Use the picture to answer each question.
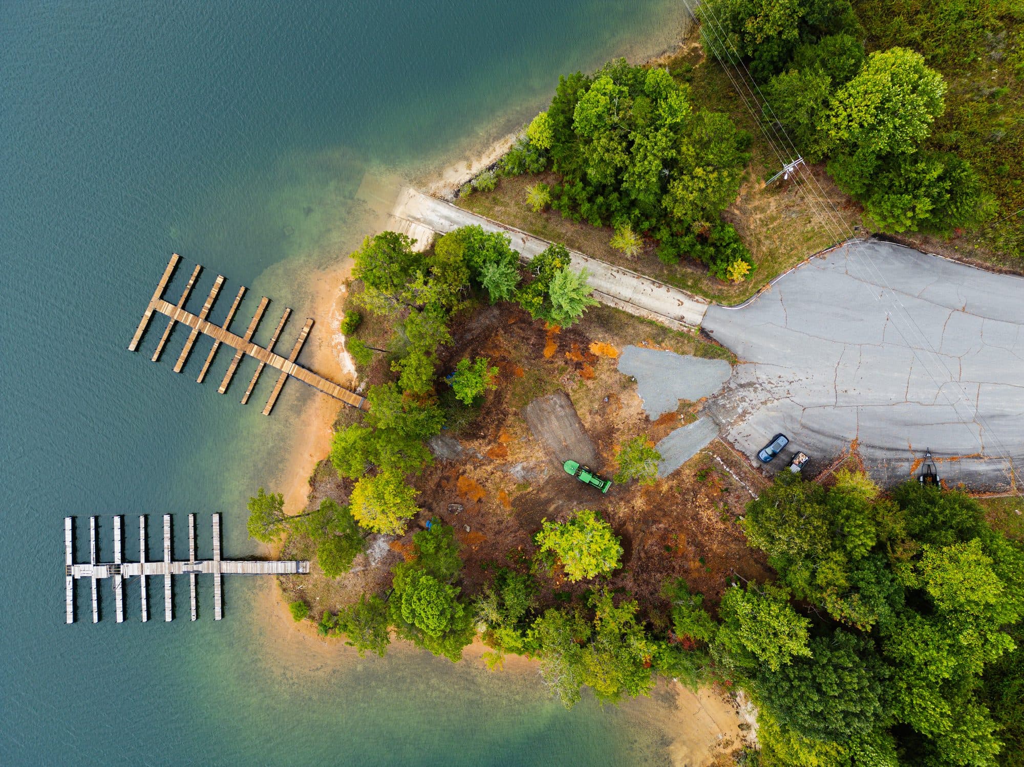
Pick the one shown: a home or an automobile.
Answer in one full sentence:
The image shows an automobile.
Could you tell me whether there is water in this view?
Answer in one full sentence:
Yes, water can be seen from above here.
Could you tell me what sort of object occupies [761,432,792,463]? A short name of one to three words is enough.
car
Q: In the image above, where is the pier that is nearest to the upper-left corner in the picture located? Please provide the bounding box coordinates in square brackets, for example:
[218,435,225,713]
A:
[125,253,370,416]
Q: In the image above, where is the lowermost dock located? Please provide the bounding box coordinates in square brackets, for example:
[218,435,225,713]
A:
[62,513,309,624]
